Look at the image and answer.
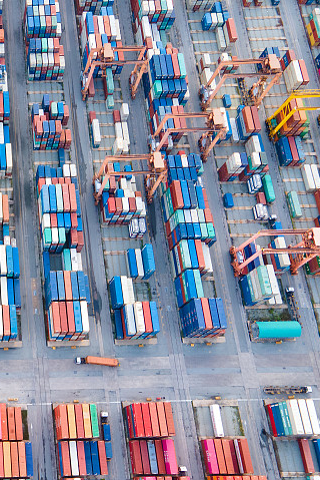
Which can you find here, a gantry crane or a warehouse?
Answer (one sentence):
I can see a gantry crane in this picture.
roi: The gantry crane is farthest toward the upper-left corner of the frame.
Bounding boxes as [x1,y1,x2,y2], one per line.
[81,45,148,102]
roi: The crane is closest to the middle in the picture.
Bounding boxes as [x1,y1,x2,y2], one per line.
[93,153,170,205]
